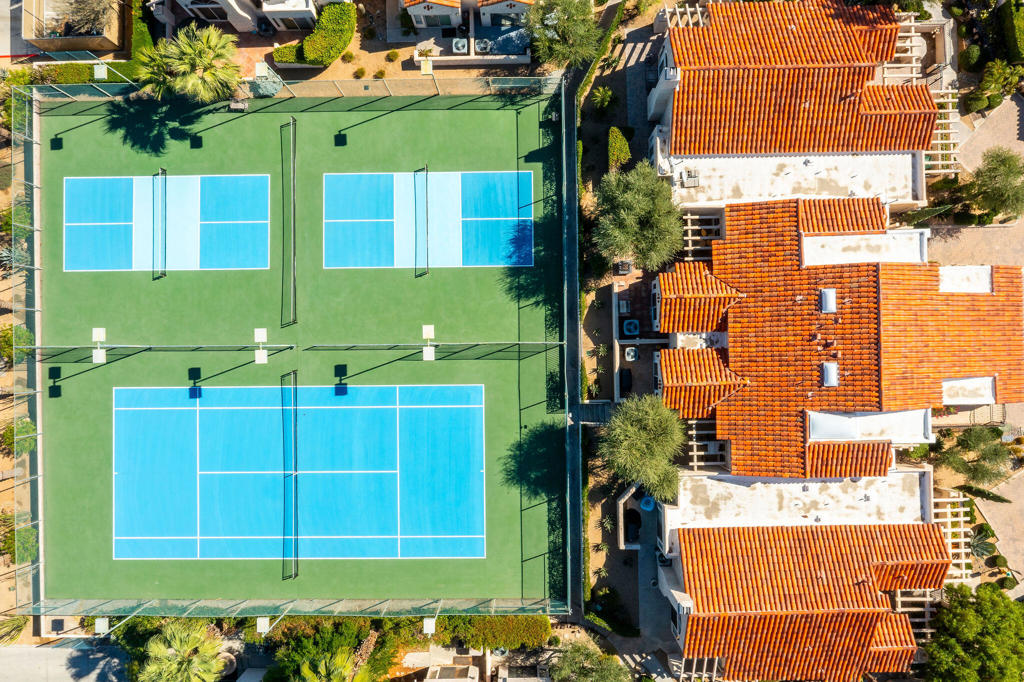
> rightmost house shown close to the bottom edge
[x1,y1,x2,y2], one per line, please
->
[649,458,952,682]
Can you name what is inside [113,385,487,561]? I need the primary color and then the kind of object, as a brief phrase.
blue tennis court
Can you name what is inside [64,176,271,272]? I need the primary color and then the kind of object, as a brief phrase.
blue sports court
